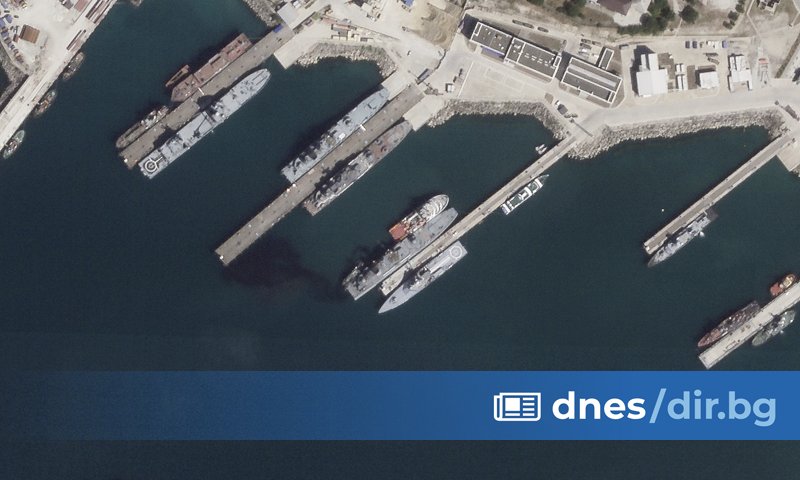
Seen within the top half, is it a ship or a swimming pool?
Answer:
ship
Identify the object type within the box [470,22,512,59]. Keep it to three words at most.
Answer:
building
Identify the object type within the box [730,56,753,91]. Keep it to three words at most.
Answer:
building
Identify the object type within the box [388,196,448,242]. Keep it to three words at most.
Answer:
ship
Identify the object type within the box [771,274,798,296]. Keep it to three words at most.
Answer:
boat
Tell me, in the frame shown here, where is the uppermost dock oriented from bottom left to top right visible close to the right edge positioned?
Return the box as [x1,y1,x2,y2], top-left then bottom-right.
[645,131,796,254]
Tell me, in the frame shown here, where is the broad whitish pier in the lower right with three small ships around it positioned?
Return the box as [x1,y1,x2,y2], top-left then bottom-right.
[699,283,800,369]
